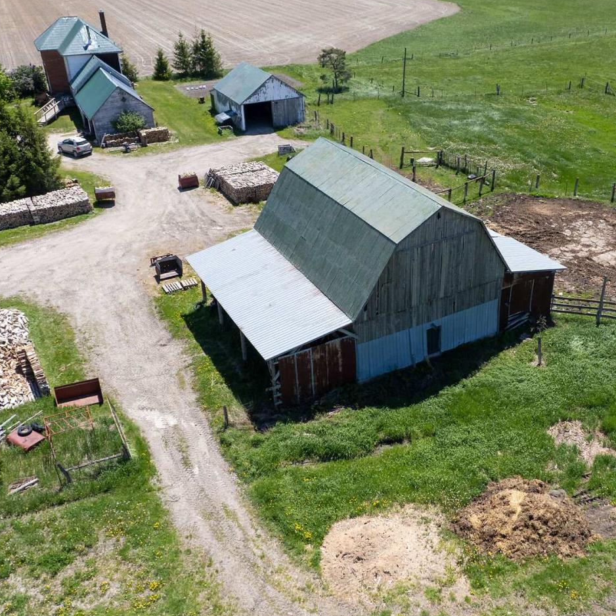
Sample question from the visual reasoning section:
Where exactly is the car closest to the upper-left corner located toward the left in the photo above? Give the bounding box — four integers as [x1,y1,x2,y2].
[59,134,91,155]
